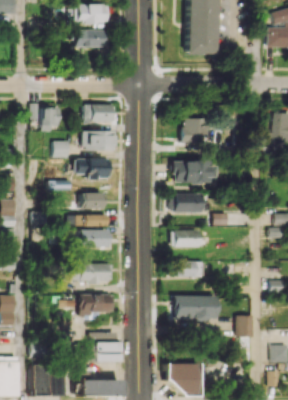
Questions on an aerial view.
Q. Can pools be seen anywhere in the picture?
No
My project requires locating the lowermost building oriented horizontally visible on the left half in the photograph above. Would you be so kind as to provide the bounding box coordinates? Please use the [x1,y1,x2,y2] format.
[84,379,126,396]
